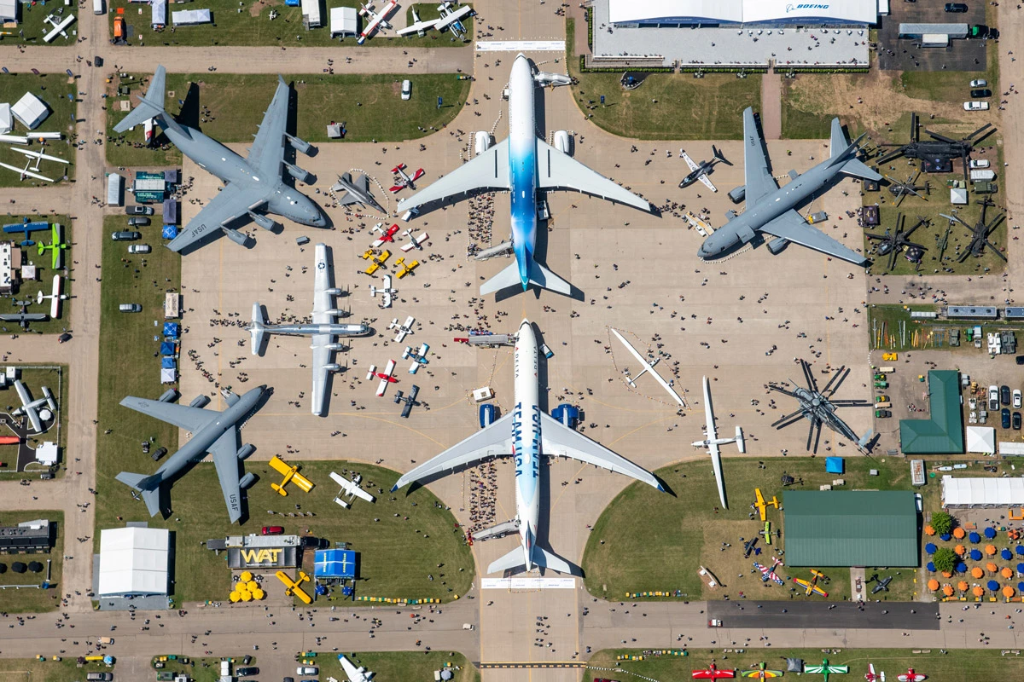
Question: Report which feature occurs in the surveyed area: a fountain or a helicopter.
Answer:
helicopter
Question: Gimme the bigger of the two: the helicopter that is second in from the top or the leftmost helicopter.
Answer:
the leftmost helicopter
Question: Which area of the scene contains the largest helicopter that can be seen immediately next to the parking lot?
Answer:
top right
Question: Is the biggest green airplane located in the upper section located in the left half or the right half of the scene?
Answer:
left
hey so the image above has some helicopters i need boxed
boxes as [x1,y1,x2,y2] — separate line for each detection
[865,212,932,268]
[885,168,937,204]
[952,193,1007,262]
[875,112,992,179]
[767,357,867,454]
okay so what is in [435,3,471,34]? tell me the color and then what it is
white airplane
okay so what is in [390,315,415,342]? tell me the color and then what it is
white airplane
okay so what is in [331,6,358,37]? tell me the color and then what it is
white tent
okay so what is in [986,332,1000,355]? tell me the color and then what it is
white vehicle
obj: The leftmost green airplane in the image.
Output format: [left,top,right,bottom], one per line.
[37,222,68,267]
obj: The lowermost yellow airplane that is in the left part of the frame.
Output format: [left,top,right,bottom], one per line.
[277,572,309,602]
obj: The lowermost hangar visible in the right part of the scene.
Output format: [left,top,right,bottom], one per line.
[782,490,917,569]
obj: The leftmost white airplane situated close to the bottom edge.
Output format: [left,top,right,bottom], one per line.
[334,652,373,682]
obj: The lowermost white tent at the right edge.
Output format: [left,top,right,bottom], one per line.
[941,479,1024,507]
